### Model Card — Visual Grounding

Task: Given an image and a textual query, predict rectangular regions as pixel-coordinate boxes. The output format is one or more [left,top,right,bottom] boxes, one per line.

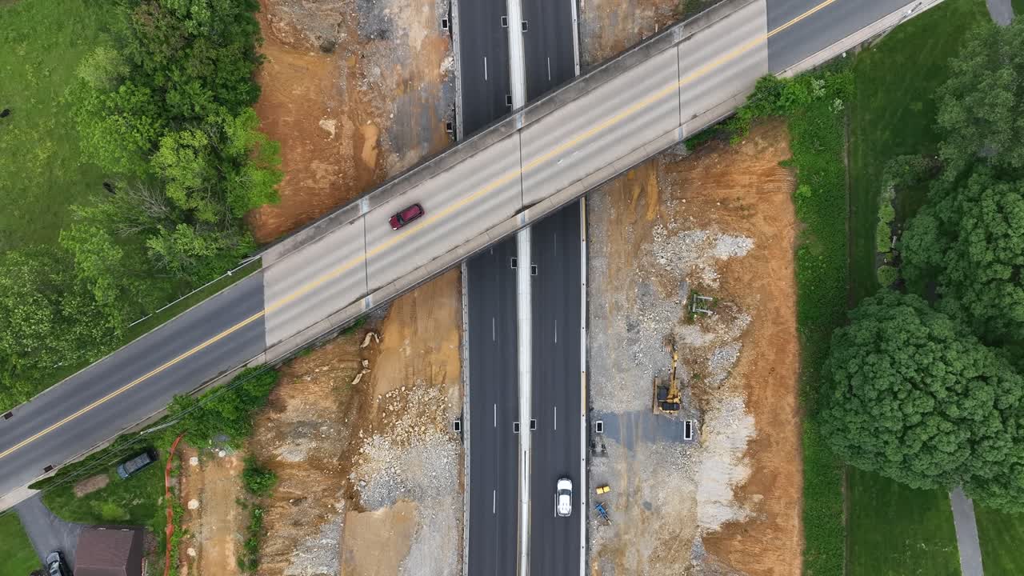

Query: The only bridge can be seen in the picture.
[261,0,766,366]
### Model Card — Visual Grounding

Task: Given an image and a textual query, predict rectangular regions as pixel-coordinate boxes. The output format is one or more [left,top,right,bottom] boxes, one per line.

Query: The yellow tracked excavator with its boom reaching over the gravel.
[655,343,682,412]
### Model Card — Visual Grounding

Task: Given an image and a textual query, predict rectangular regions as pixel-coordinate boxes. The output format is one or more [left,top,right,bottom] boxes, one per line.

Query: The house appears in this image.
[66,527,144,576]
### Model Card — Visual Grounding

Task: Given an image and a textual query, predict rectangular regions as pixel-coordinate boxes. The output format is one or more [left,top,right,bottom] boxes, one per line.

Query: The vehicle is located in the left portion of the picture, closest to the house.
[46,549,71,576]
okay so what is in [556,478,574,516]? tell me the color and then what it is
white car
